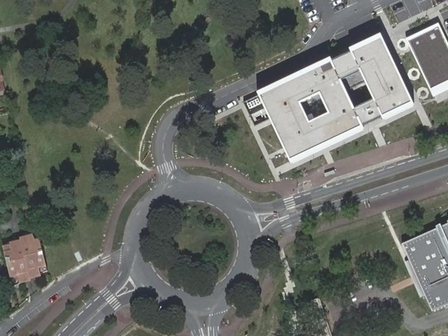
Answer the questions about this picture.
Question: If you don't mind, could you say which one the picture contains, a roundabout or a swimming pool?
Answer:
roundabout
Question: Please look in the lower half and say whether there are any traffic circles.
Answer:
Yes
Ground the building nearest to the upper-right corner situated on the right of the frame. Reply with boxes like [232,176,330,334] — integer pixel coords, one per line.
[406,24,448,97]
